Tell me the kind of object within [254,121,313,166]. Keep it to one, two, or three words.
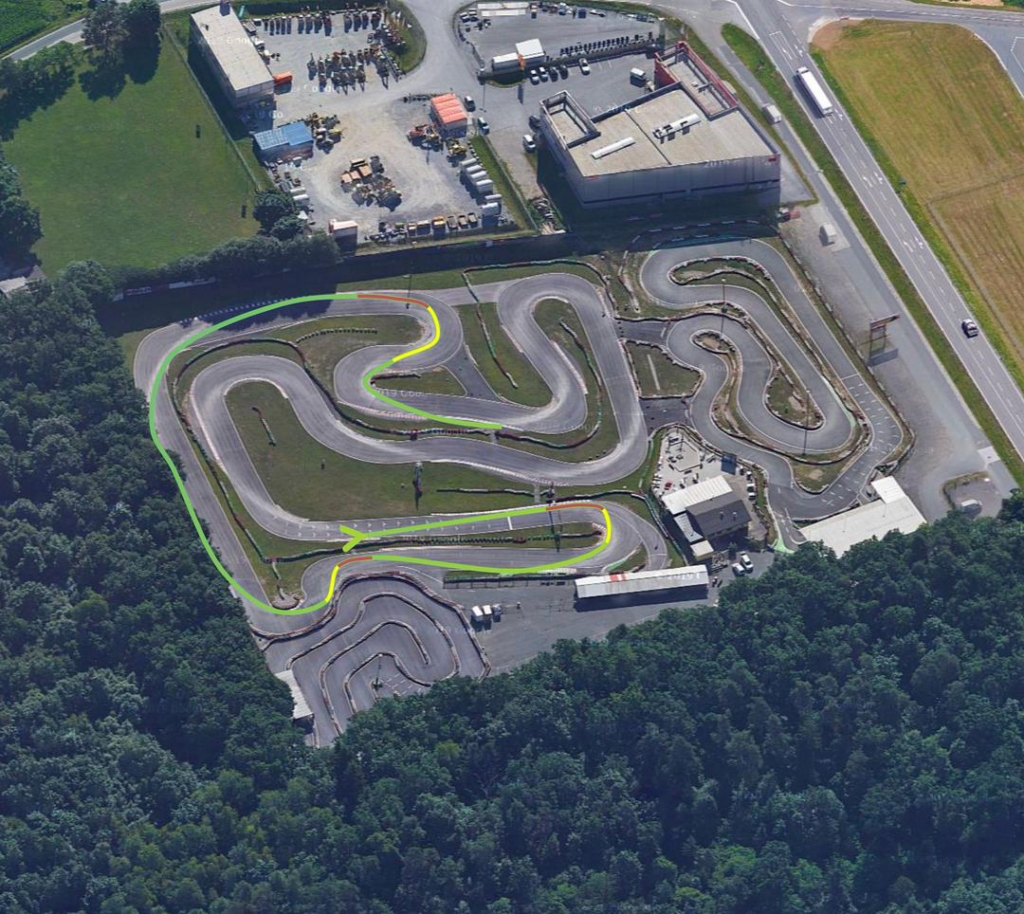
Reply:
shed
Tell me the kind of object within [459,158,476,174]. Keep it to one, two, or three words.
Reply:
camper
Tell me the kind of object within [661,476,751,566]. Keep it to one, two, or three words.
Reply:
building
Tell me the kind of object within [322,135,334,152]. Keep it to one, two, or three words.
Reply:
vehicle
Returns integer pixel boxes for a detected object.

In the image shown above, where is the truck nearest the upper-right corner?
[794,64,836,114]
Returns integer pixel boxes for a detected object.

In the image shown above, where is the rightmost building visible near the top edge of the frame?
[540,41,779,215]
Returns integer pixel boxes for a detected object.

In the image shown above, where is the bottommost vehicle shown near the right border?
[962,321,978,336]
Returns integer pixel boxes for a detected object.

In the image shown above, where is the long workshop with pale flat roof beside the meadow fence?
[191,2,274,115]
